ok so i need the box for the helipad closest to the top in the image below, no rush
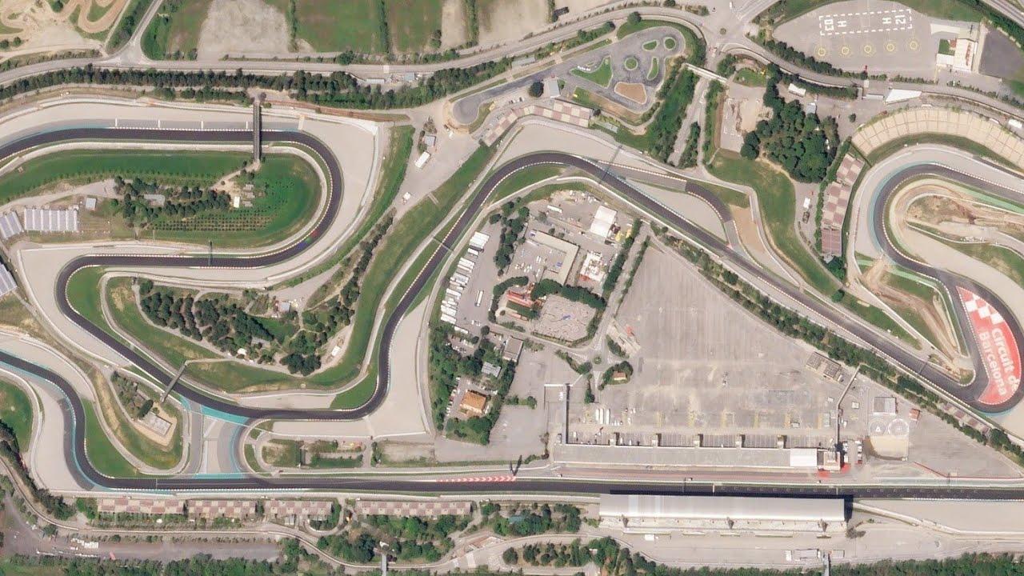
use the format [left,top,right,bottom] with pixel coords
[772,0,977,81]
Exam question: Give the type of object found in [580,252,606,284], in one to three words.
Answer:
building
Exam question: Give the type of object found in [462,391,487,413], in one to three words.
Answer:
house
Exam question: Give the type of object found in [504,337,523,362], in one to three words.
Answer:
building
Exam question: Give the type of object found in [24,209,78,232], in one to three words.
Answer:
greenhouse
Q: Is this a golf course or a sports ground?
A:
sports ground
